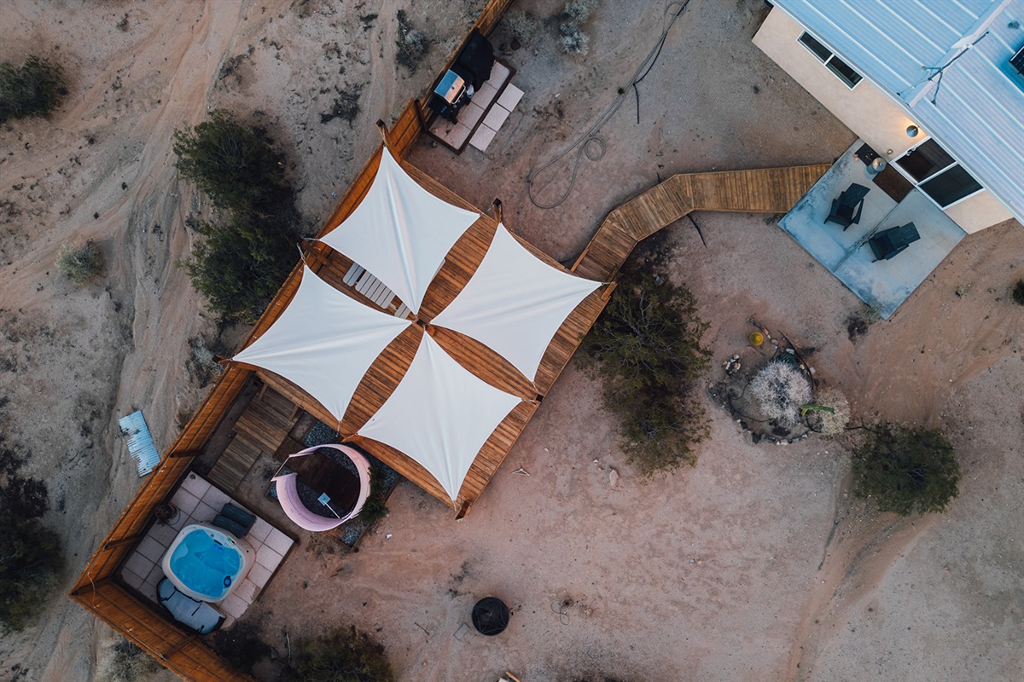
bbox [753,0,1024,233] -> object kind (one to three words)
house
